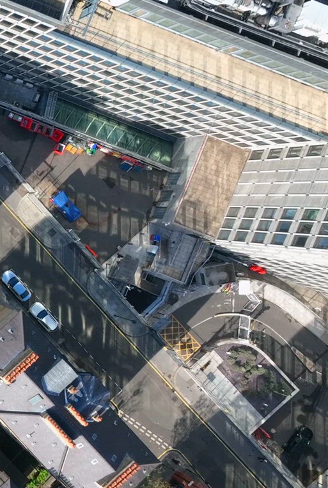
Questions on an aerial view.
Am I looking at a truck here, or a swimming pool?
truck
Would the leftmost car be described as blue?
Yes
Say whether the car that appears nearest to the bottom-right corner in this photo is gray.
No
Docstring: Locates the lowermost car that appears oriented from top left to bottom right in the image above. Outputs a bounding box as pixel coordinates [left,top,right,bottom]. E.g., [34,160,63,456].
[28,299,62,335]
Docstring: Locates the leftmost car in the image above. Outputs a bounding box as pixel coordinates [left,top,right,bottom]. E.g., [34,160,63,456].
[0,268,35,305]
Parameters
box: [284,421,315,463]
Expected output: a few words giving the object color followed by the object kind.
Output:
black car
